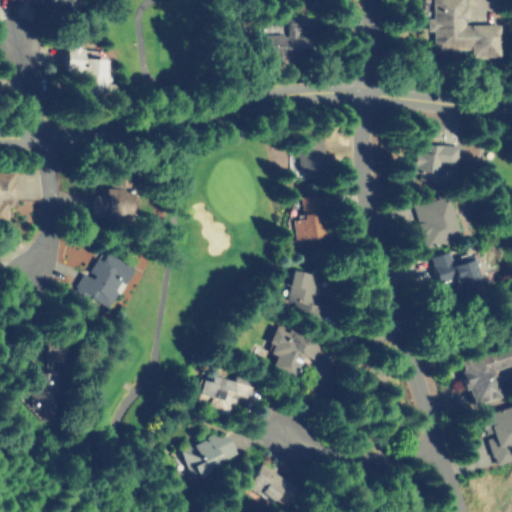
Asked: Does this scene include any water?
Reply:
No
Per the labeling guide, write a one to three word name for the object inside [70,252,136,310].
house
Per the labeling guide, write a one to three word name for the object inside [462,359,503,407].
house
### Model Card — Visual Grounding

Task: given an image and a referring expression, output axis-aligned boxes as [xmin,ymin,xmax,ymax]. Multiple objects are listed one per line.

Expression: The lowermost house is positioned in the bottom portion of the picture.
[248,459,290,503]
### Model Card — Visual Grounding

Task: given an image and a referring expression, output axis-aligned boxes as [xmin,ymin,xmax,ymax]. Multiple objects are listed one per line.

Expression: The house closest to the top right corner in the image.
[429,0,504,58]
